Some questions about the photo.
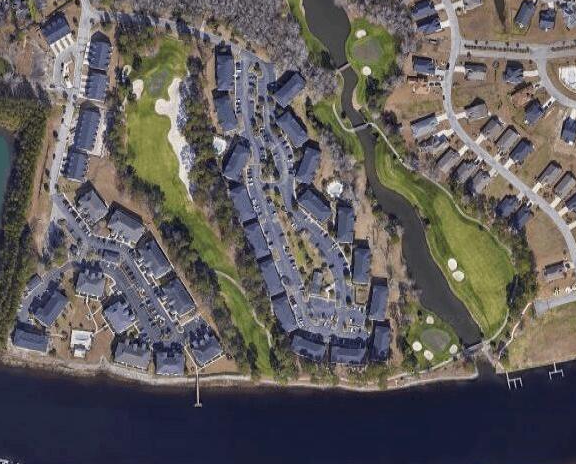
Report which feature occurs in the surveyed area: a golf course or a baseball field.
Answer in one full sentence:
There is a golf course in the scene.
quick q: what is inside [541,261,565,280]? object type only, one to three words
house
